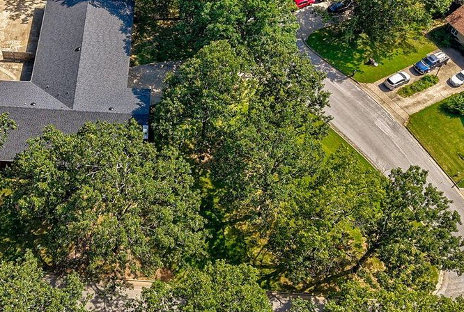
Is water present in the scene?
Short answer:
No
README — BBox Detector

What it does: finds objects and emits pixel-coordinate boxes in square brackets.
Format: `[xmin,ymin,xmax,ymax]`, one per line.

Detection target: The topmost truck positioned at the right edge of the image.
[414,46,455,73]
